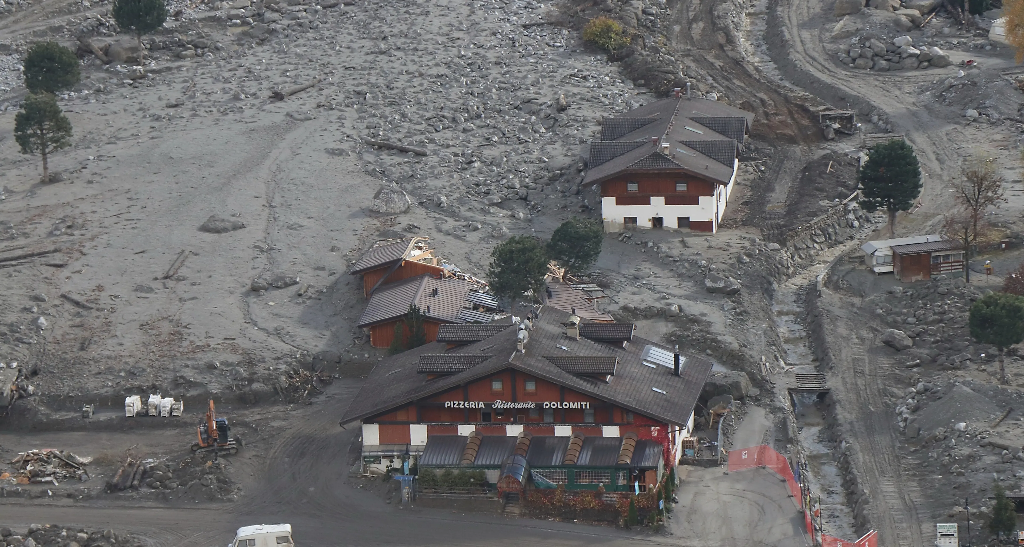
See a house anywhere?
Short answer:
Yes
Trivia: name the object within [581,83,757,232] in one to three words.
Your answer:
house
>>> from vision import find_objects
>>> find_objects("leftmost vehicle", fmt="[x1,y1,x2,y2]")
[195,401,245,460]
